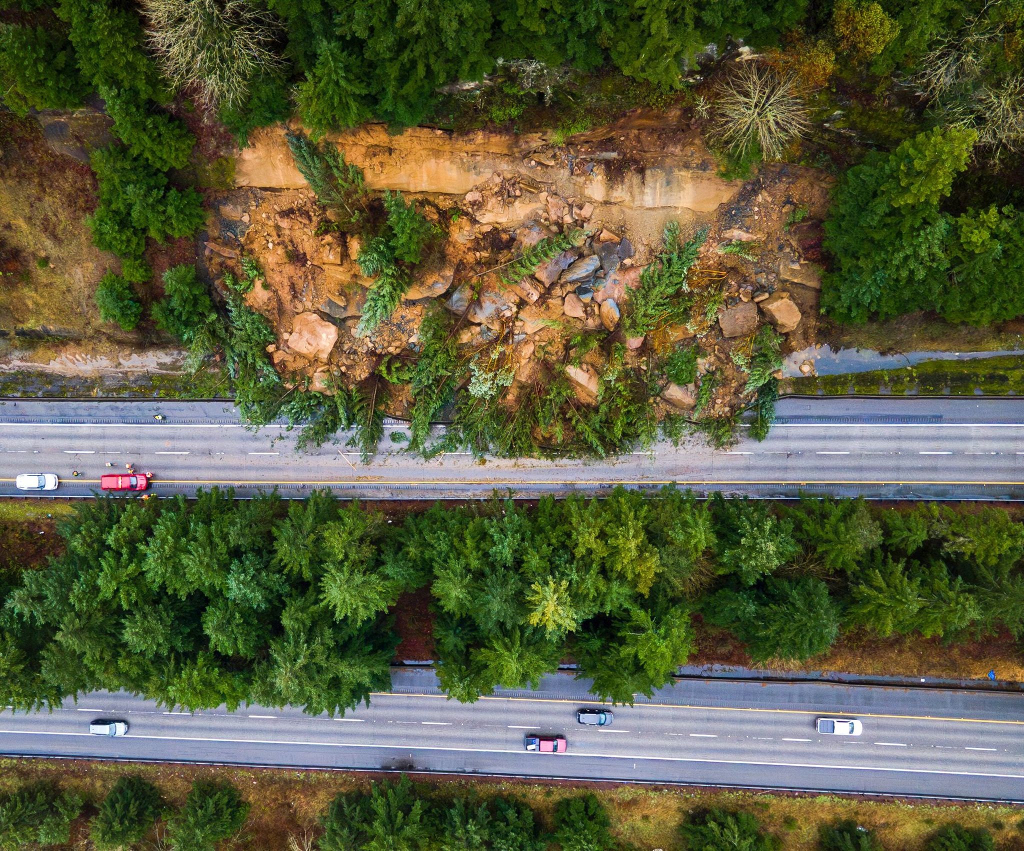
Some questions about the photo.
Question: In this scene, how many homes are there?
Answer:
0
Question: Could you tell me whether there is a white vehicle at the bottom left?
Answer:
Yes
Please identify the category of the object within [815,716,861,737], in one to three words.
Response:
truck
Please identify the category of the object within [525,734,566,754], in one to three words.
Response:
vehicle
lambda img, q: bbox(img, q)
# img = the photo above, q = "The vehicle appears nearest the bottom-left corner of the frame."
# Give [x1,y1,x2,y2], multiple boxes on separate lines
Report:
[91,718,130,737]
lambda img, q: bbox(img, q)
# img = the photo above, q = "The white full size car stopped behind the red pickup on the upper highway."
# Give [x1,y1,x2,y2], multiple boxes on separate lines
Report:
[16,472,62,491]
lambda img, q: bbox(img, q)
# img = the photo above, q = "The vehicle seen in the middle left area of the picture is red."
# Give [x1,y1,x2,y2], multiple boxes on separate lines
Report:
[99,473,151,492]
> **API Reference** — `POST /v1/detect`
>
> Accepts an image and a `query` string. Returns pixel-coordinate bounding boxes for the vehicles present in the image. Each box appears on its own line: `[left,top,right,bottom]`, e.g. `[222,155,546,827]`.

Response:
[525,734,566,754]
[16,472,62,491]
[99,473,151,492]
[576,708,612,727]
[91,718,130,737]
[815,716,861,737]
